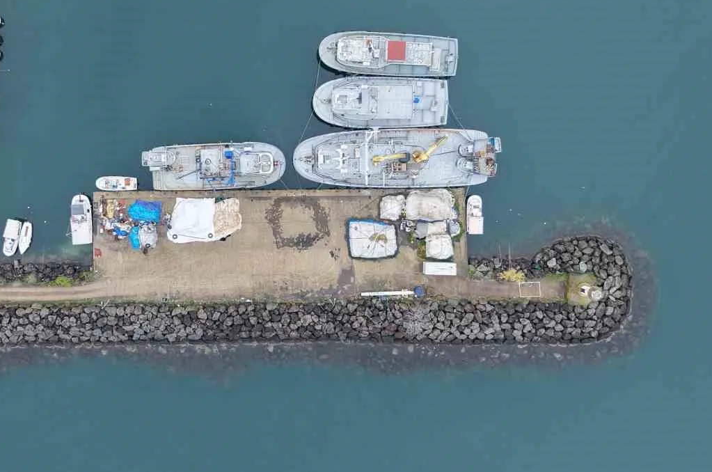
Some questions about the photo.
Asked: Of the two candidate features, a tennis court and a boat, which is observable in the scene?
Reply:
boat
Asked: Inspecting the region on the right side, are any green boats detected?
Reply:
No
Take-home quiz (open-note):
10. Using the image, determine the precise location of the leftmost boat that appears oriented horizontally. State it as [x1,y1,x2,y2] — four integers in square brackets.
[96,176,140,190]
